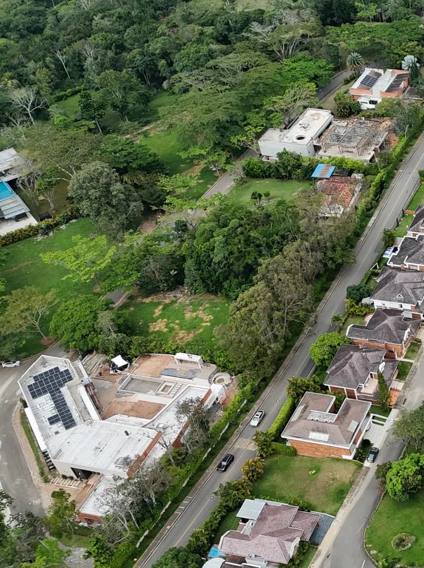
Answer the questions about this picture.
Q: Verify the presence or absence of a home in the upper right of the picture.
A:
Yes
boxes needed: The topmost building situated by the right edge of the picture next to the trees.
[349,67,411,112]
